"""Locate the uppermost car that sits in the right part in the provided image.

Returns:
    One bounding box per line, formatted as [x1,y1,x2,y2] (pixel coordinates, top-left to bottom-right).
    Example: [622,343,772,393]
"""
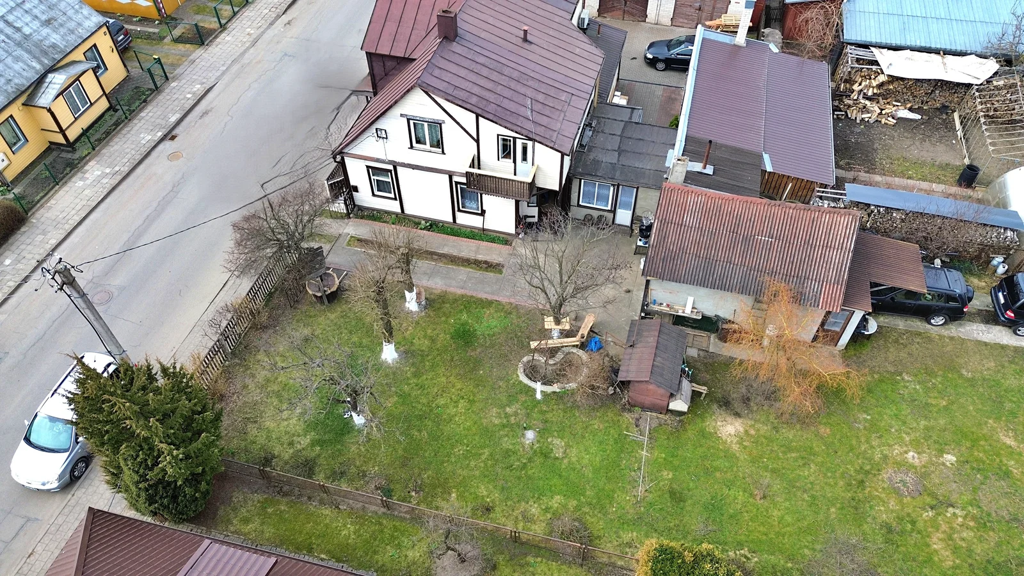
[643,33,691,71]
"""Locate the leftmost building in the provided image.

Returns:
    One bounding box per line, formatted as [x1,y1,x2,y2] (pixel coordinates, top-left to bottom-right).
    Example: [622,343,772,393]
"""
[0,0,131,191]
